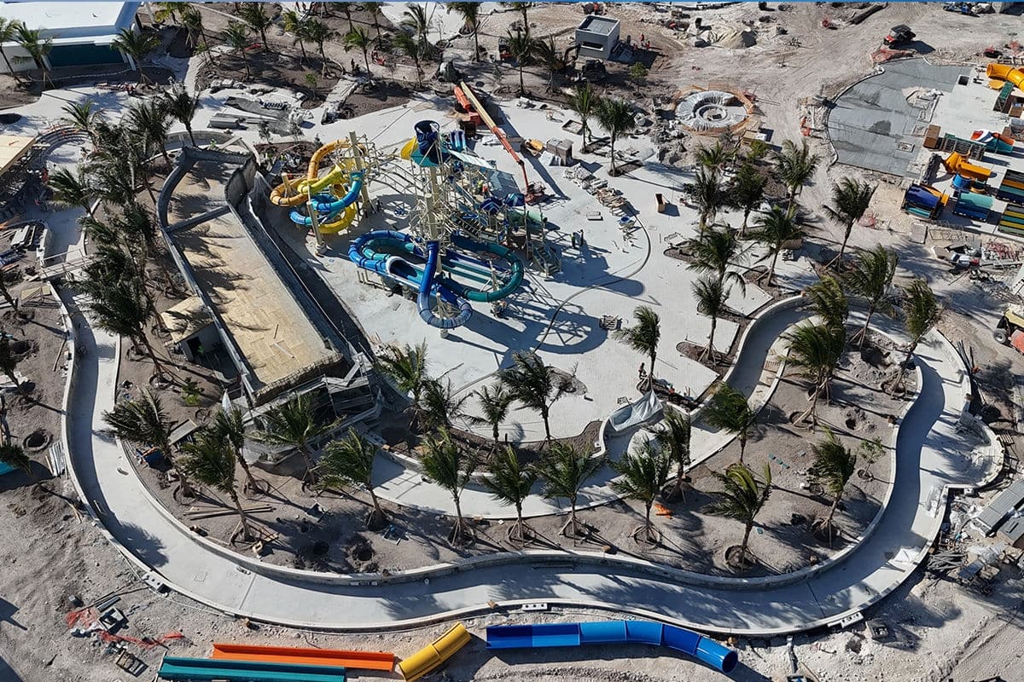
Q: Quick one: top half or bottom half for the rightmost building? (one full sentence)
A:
The top half of the photo is where the rightmost building is.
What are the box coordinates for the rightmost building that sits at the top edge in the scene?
[576,4,622,59]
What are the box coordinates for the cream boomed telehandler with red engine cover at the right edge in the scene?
[987,306,1024,345]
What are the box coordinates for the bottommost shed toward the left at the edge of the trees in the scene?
[160,294,224,368]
